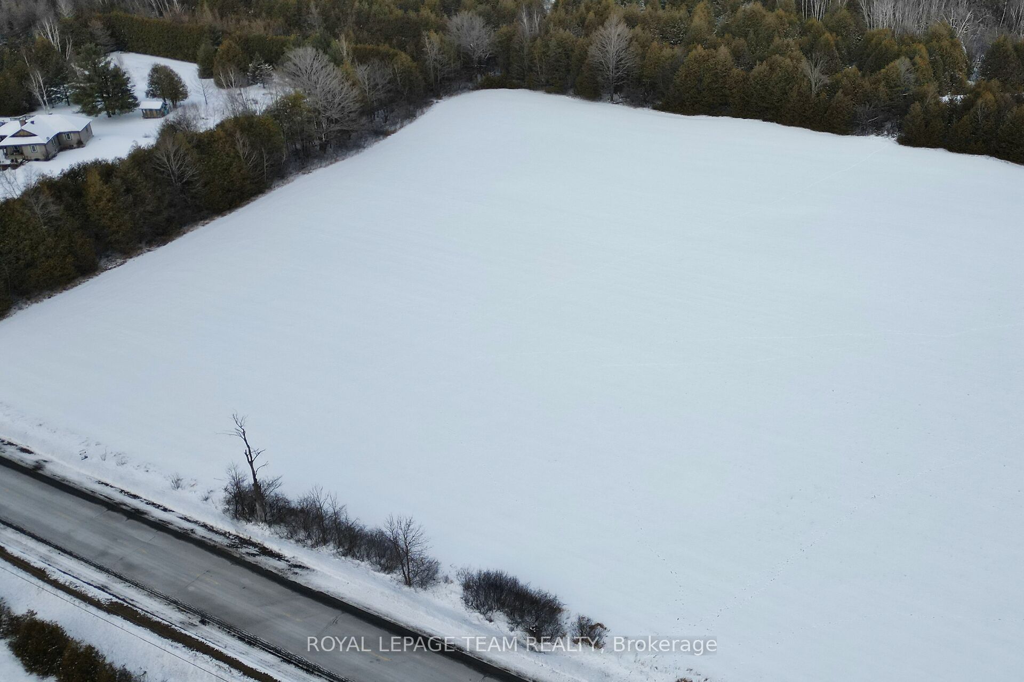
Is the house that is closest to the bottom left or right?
left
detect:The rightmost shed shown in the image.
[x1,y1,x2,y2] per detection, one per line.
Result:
[135,98,167,118]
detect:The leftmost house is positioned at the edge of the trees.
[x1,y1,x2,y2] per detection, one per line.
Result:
[0,113,96,166]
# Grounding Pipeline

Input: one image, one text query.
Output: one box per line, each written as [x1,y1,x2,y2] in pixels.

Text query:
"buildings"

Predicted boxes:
[135,98,167,118]
[0,113,96,166]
